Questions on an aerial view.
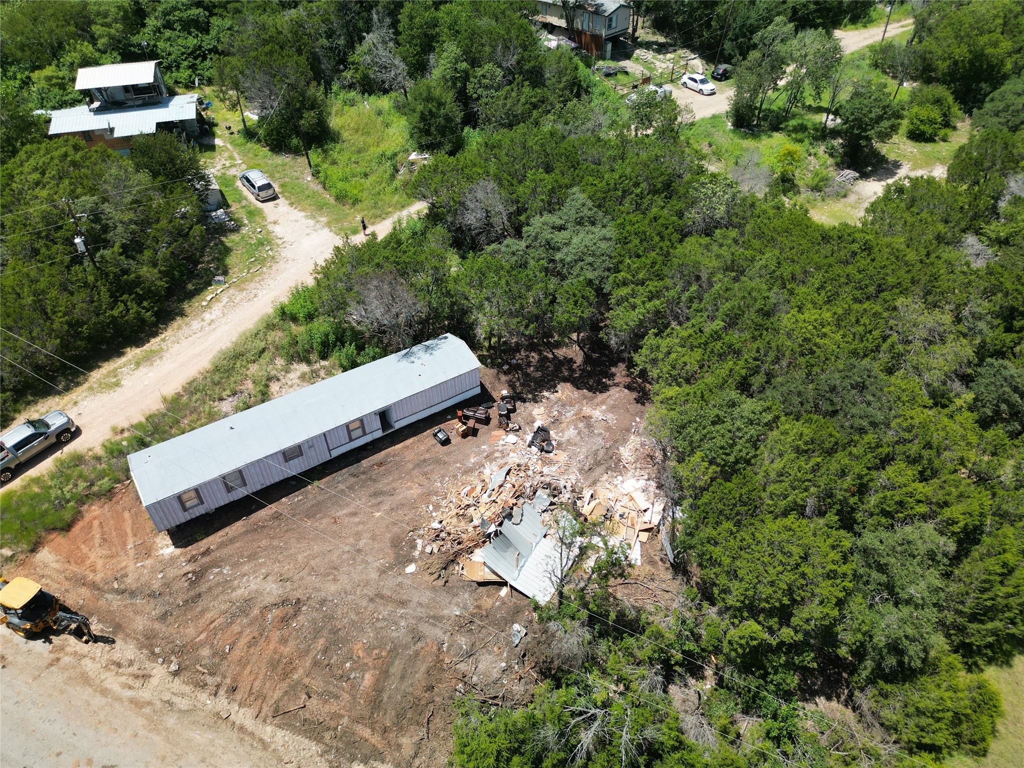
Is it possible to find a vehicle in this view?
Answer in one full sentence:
Yes, a vehicle appears in the view.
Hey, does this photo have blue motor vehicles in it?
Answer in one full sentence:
No, the scene contains no blue motor vehicle.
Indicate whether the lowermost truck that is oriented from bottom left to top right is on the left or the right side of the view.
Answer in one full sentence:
You can find the lowermost truck that is oriented from bottom left to top right on the left side of the picture.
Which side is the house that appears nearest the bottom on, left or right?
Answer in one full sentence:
It is on the left.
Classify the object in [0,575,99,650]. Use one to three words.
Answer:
work vehicle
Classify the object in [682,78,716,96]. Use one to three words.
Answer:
car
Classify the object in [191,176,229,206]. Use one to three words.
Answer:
shed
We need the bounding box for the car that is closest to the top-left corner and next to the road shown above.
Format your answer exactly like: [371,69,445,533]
[239,173,279,201]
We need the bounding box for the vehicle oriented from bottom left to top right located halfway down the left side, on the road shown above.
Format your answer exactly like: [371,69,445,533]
[0,413,80,484]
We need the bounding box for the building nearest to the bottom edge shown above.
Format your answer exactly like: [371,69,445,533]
[124,331,483,533]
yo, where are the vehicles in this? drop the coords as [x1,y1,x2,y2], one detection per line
[239,173,279,201]
[0,413,80,484]
[682,78,716,96]
[0,575,99,650]
[712,65,731,81]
